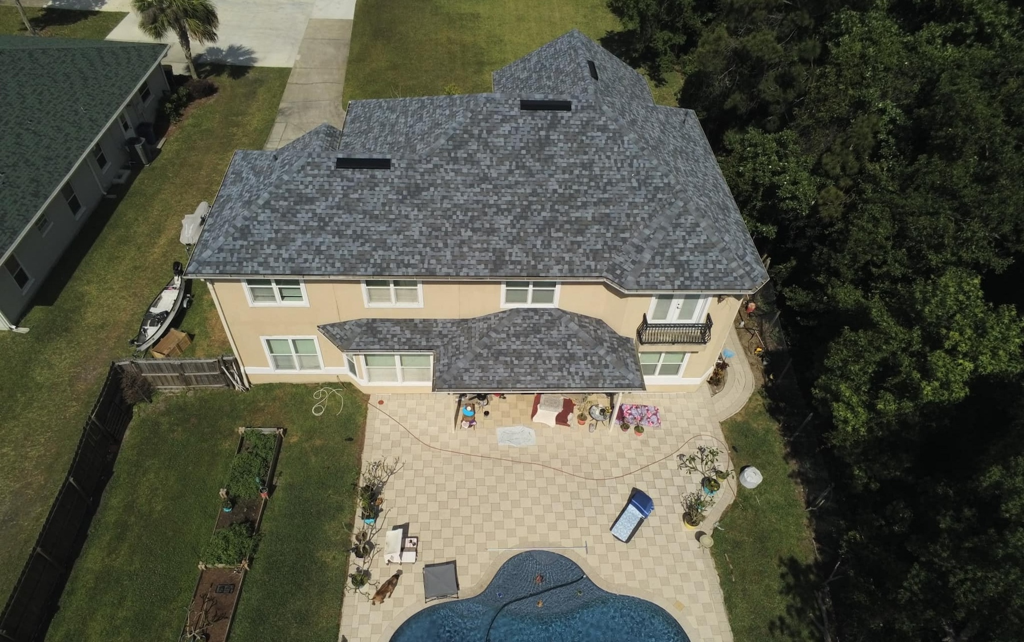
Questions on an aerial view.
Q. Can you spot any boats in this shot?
Yes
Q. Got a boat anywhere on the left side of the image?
Yes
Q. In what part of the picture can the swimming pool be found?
bottom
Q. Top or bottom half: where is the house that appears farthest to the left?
top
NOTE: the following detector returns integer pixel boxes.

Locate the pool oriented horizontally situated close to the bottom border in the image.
[394,551,688,642]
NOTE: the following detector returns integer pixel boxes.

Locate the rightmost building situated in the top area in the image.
[182,30,771,434]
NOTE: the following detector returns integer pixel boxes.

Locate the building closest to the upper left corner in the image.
[0,35,174,330]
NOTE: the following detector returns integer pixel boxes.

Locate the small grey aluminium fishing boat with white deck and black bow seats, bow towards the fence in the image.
[131,266,189,353]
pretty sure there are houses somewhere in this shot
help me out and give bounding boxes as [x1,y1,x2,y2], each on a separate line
[182,30,771,434]
[0,35,174,330]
